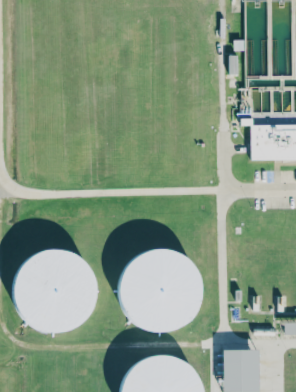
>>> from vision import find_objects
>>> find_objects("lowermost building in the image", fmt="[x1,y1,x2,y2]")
[223,350,260,392]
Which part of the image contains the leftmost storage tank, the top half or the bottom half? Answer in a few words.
bottom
